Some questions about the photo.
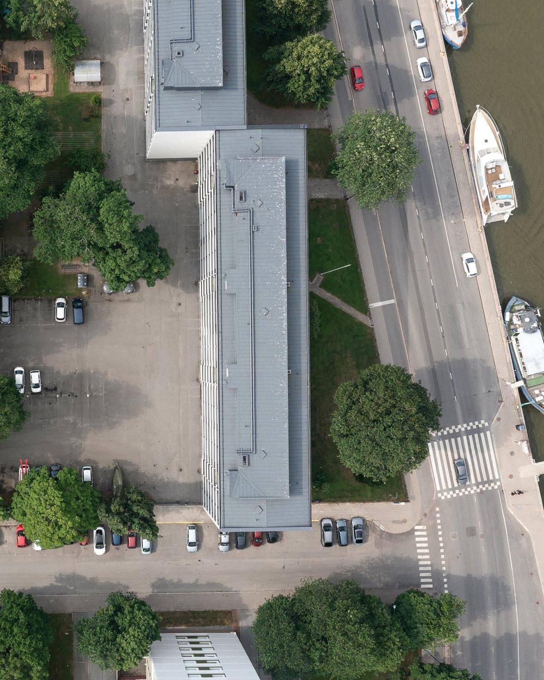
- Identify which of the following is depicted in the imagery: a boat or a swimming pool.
boat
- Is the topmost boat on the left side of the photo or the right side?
right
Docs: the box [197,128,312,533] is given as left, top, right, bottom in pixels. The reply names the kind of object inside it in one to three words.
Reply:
building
